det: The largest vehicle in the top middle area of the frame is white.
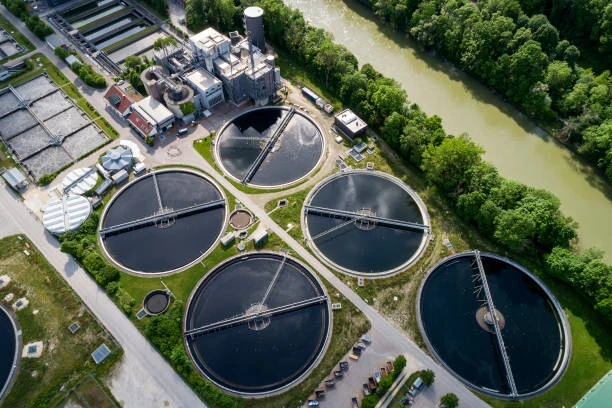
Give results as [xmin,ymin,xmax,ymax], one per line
[299,84,325,108]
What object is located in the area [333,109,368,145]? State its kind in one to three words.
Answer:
building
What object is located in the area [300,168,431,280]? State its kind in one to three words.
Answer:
storage tank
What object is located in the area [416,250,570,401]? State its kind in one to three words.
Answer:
storage tank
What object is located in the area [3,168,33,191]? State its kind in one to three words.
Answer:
shed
